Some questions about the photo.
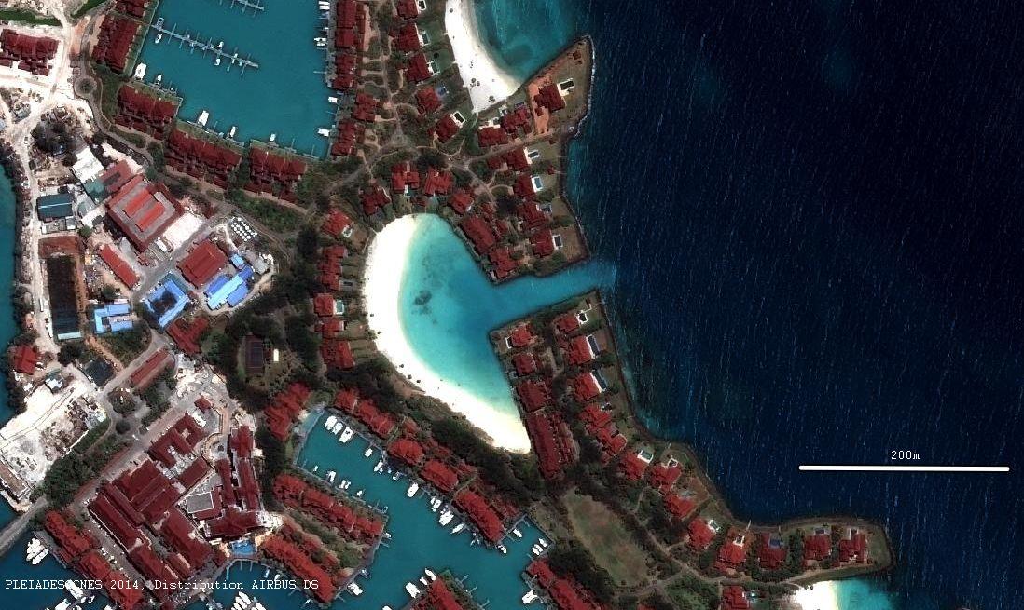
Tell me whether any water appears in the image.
Yes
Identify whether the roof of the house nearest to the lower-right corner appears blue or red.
red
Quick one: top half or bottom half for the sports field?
bottom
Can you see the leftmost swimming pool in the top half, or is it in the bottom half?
bottom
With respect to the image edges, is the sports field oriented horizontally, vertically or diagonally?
diagonally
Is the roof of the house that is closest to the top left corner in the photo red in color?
Yes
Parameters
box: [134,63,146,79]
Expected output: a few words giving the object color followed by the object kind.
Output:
white boat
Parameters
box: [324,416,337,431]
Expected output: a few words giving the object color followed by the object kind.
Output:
white boat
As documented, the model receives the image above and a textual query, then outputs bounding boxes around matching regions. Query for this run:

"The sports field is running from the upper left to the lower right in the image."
[567,494,647,585]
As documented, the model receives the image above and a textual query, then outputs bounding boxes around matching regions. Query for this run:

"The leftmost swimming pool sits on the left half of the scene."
[228,539,258,560]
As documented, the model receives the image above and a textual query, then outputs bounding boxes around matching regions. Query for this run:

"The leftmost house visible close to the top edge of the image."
[0,27,59,77]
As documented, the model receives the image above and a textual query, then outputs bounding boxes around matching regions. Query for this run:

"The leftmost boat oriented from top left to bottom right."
[66,582,85,600]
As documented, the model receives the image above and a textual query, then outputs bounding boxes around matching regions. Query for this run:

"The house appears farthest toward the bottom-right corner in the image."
[836,533,870,566]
